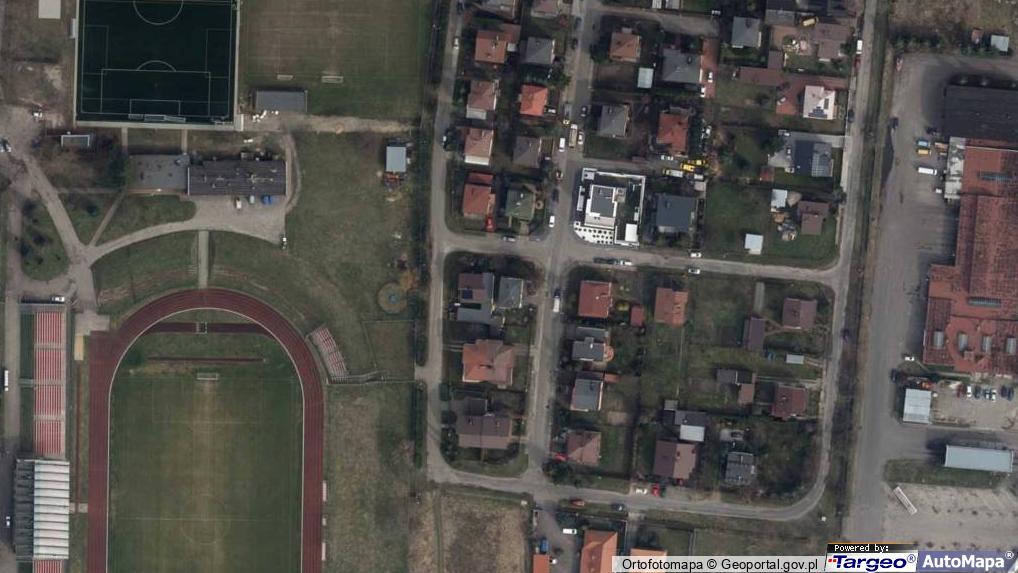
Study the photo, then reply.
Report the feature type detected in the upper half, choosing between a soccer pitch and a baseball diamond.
soccer pitch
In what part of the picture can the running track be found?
bottom left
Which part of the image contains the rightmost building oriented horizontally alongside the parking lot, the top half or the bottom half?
bottom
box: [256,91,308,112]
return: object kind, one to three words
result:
shed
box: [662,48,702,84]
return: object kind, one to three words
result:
house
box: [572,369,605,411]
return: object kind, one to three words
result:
house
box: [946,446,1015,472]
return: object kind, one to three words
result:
building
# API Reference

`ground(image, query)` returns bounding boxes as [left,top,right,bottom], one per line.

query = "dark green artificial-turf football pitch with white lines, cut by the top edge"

[77,0,237,122]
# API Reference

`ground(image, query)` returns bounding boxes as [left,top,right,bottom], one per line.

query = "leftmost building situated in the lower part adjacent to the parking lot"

[905,388,933,425]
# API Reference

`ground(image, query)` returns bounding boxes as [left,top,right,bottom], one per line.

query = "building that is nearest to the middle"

[497,278,525,308]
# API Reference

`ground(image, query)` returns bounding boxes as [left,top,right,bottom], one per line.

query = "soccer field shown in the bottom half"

[108,309,300,573]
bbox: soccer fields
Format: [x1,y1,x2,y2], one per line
[77,0,237,122]
[247,0,417,79]
[108,309,300,573]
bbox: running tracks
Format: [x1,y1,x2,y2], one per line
[77,287,323,573]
